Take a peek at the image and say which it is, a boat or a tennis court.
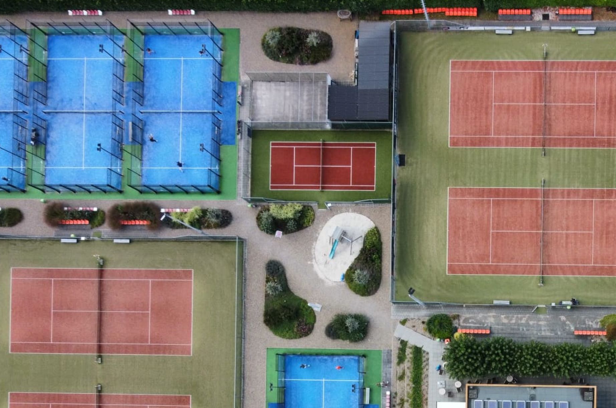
tennis court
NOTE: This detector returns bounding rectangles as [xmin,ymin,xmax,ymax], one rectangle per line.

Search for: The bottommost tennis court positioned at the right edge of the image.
[446,179,616,283]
